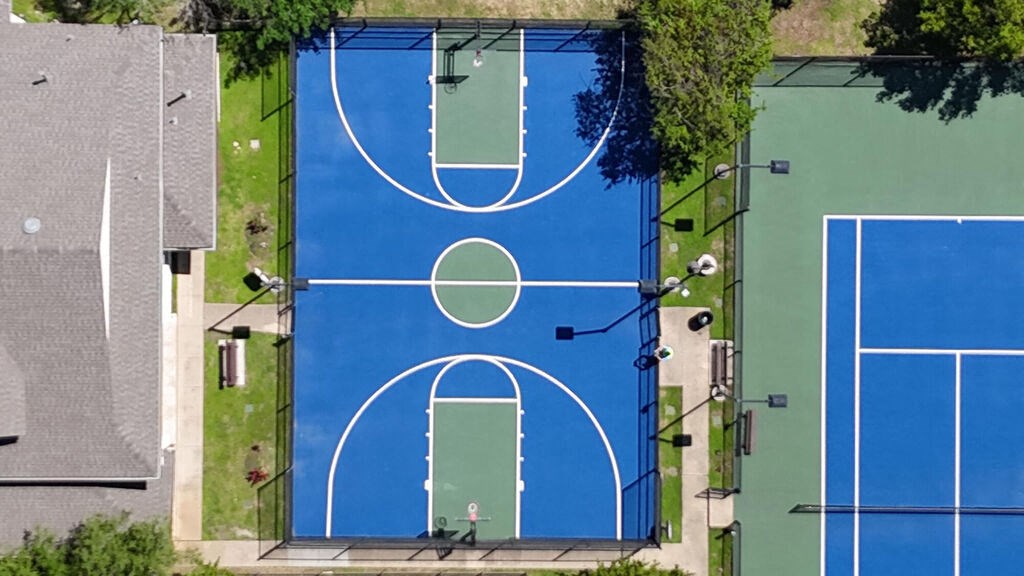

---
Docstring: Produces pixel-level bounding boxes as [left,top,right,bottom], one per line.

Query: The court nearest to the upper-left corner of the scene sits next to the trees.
[293,28,658,539]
